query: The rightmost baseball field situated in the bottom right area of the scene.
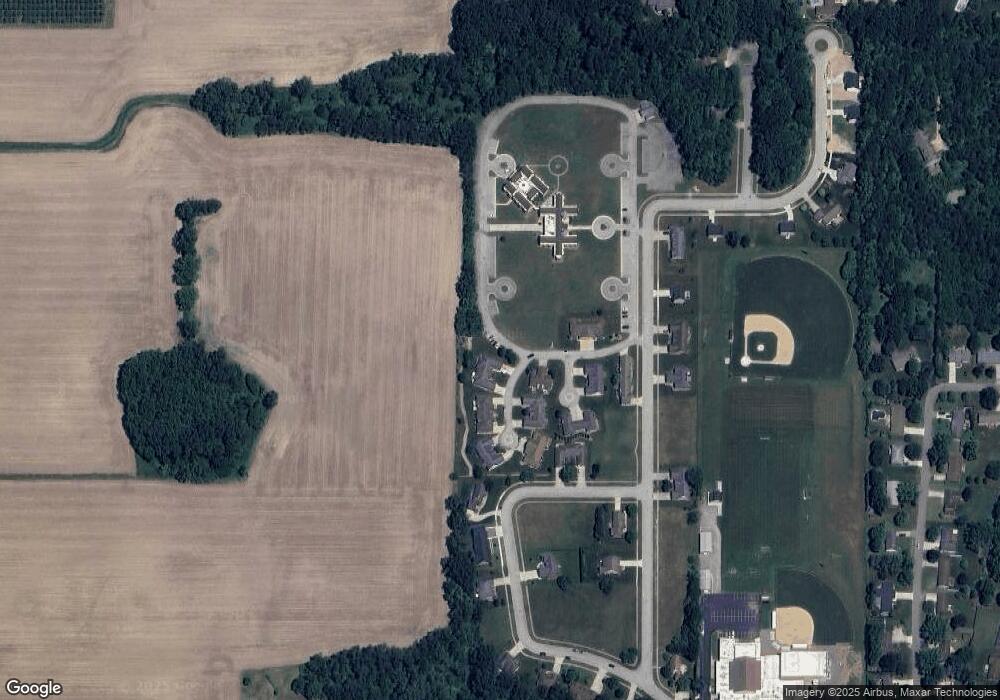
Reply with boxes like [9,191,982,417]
[775,569,852,646]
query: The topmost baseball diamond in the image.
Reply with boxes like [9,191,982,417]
[732,256,854,380]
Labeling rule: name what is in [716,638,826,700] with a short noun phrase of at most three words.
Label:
building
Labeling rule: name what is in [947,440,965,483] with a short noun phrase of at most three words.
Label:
house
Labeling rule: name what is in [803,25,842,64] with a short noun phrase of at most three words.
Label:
roundabout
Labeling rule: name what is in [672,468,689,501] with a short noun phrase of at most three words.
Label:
house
